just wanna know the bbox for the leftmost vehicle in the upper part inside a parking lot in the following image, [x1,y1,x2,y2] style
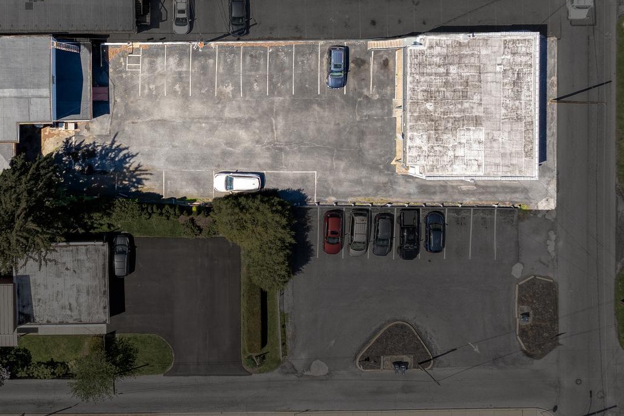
[172,0,192,35]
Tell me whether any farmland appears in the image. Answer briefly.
No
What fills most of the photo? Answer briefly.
paved ground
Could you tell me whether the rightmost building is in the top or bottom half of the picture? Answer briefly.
top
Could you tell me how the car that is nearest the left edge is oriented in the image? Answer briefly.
from top to bottom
